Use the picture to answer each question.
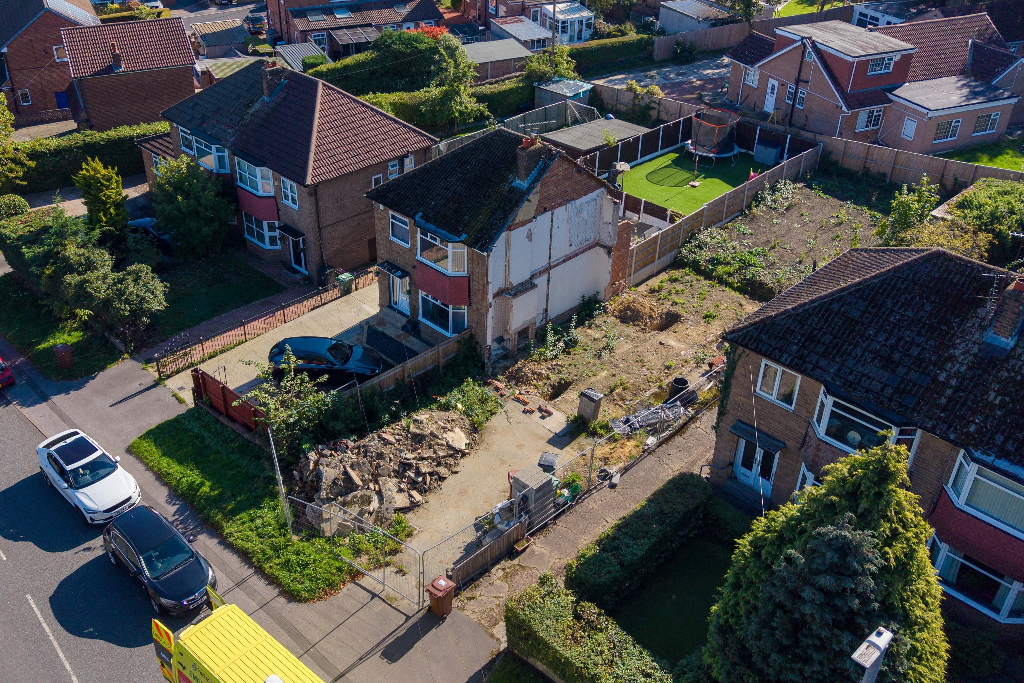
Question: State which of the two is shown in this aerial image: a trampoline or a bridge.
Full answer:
There is a trampoline in the scene.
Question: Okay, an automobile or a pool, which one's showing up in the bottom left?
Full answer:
The feature located in the bottom left is an automobile.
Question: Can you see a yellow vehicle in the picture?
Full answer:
Yes, a yellow vehicle can be made out from above.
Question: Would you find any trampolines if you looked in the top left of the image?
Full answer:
No, in the top left of the image there is no trampoline.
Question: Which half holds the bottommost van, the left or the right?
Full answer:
The bottommost van sits on the left side.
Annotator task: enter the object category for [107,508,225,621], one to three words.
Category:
car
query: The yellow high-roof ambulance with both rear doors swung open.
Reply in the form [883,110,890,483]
[149,587,311,683]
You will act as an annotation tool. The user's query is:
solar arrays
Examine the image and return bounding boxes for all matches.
[49,0,94,24]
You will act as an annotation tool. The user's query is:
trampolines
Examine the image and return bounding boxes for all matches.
[686,107,742,172]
